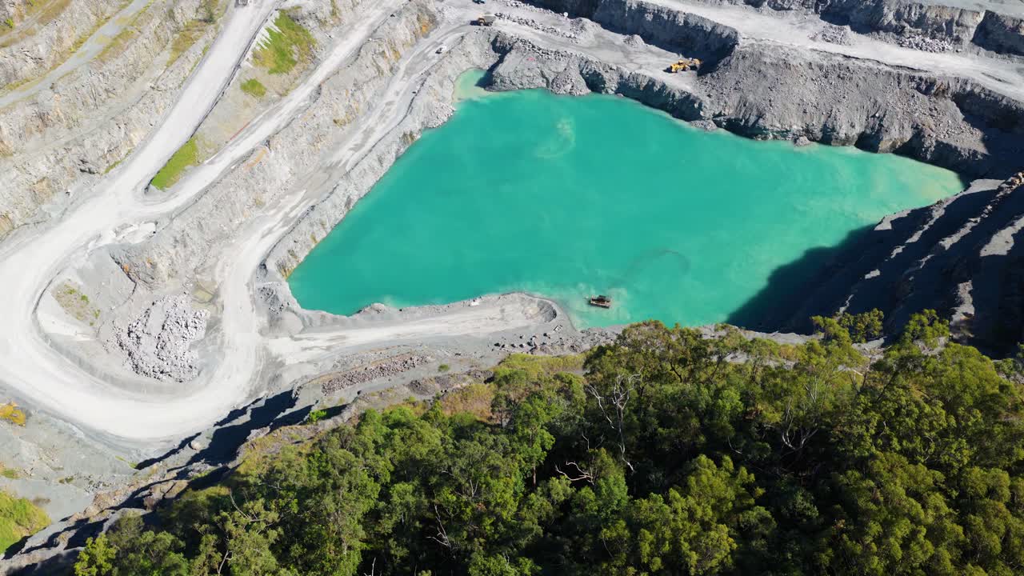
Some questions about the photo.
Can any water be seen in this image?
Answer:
Yes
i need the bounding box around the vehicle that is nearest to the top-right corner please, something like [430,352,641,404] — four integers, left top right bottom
[670,60,699,74]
